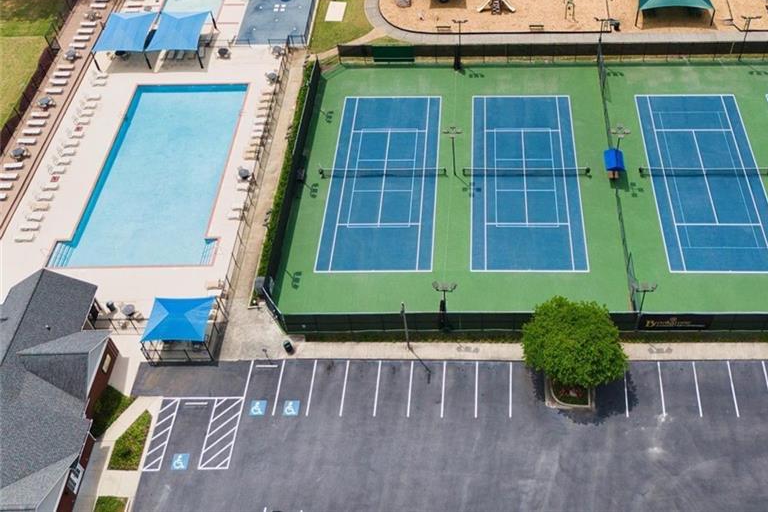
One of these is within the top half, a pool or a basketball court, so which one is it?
pool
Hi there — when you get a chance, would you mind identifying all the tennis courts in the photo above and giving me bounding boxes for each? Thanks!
[470,95,589,272]
[635,94,768,273]
[314,96,442,272]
